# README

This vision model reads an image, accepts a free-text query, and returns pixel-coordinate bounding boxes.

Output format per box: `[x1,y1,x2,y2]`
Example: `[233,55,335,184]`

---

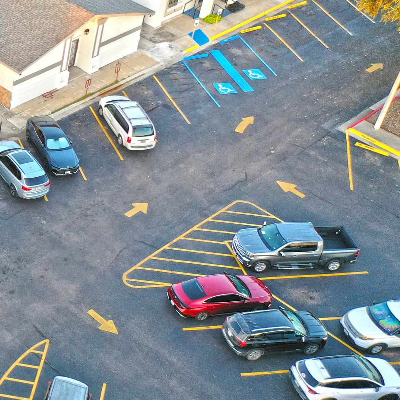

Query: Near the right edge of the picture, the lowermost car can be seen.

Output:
[290,352,400,400]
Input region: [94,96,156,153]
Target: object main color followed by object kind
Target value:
white car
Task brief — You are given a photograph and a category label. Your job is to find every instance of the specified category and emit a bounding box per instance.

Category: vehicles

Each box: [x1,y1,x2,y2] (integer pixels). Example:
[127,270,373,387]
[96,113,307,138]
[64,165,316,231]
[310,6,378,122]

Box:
[227,221,368,274]
[169,272,284,320]
[290,352,400,400]
[38,375,89,400]
[225,308,342,363]
[94,96,156,153]
[344,300,400,356]
[0,137,52,204]
[23,115,79,178]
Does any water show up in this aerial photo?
No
